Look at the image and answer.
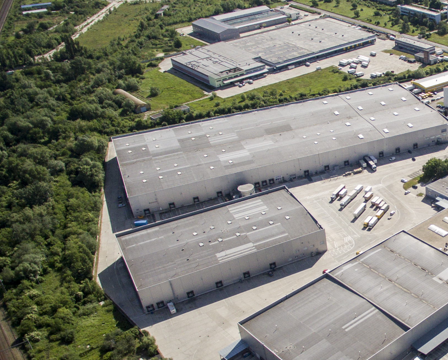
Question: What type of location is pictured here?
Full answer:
The area seen from above is an industrial area.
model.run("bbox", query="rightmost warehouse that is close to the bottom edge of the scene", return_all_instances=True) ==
[237,230,448,360]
